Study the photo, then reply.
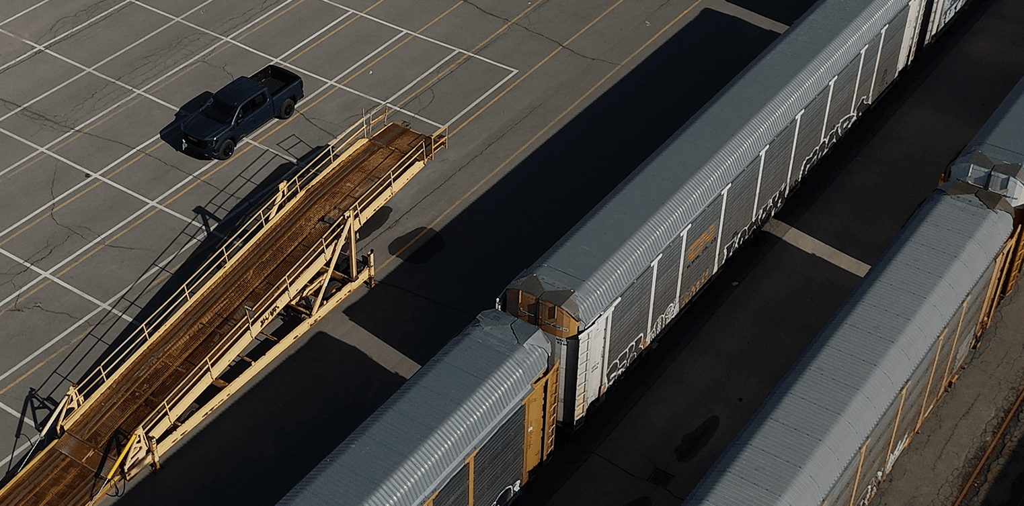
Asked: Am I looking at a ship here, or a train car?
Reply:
train car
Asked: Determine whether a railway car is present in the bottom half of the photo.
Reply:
Yes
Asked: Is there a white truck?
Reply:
No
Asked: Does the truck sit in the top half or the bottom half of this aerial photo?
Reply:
top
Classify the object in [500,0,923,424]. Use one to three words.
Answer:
rail car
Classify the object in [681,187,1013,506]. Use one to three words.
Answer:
rail car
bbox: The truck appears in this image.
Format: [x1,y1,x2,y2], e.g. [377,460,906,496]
[177,64,305,158]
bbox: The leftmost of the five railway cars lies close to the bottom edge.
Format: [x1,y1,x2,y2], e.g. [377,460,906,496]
[267,311,555,506]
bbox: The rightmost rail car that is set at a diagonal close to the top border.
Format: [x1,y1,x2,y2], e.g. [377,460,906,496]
[913,0,964,53]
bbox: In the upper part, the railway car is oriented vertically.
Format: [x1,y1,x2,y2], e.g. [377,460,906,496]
[937,74,1024,302]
